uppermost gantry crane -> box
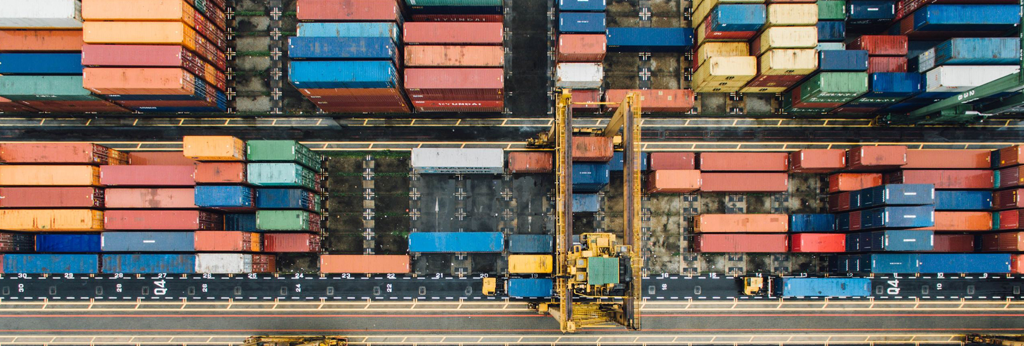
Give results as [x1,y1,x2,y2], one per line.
[885,67,1024,126]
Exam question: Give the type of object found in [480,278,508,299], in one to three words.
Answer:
truck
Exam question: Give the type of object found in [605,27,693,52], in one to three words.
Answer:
shipping container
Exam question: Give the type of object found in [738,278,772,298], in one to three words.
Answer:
vehicle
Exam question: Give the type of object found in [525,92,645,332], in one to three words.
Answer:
container crane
